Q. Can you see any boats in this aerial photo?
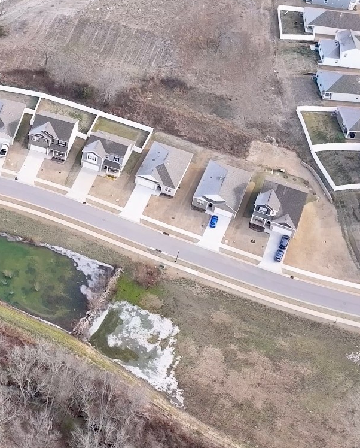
No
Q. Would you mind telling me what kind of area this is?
residential area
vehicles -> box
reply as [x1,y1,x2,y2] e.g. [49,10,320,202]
[273,247,286,264]
[208,212,219,228]
[0,141,10,157]
[279,232,292,249]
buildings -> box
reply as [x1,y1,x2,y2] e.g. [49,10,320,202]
[336,107,360,139]
[29,113,79,158]
[81,129,136,178]
[318,36,360,68]
[315,69,360,102]
[190,158,252,219]
[249,176,310,238]
[0,99,31,146]
[299,7,360,35]
[135,140,194,198]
